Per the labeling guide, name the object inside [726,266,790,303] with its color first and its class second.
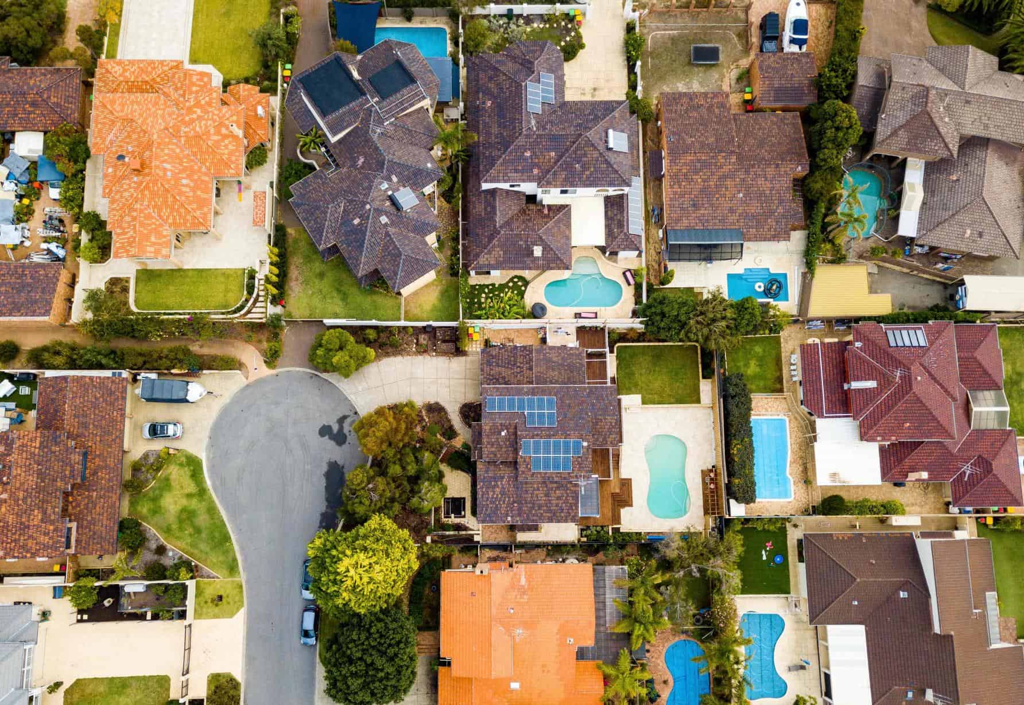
blue swimming pool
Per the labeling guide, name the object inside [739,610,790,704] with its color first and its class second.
blue swimming pool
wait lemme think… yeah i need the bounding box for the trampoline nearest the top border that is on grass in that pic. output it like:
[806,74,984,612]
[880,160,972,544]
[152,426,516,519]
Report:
[692,43,721,62]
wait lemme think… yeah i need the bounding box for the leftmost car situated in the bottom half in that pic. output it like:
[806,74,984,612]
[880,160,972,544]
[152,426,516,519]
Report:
[142,421,184,440]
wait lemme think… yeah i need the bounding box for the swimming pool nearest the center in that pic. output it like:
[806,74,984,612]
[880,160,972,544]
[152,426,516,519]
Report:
[541,253,626,310]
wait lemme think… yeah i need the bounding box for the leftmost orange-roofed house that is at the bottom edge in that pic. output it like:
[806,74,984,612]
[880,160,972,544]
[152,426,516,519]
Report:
[437,561,605,705]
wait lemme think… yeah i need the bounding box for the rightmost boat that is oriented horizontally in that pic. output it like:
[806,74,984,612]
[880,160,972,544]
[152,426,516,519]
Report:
[129,376,215,403]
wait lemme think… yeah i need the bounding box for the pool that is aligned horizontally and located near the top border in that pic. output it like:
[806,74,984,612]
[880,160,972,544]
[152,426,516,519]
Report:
[374,23,450,57]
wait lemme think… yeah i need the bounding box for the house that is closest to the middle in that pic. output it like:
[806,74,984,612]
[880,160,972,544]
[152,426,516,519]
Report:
[470,345,623,524]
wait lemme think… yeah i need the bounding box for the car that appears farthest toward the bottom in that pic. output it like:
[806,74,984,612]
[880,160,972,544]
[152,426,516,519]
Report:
[299,604,319,647]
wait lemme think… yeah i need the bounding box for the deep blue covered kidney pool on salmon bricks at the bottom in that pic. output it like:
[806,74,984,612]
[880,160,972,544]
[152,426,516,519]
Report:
[662,637,712,705]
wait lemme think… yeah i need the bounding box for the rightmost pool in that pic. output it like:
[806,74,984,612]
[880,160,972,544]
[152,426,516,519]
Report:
[836,165,886,241]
